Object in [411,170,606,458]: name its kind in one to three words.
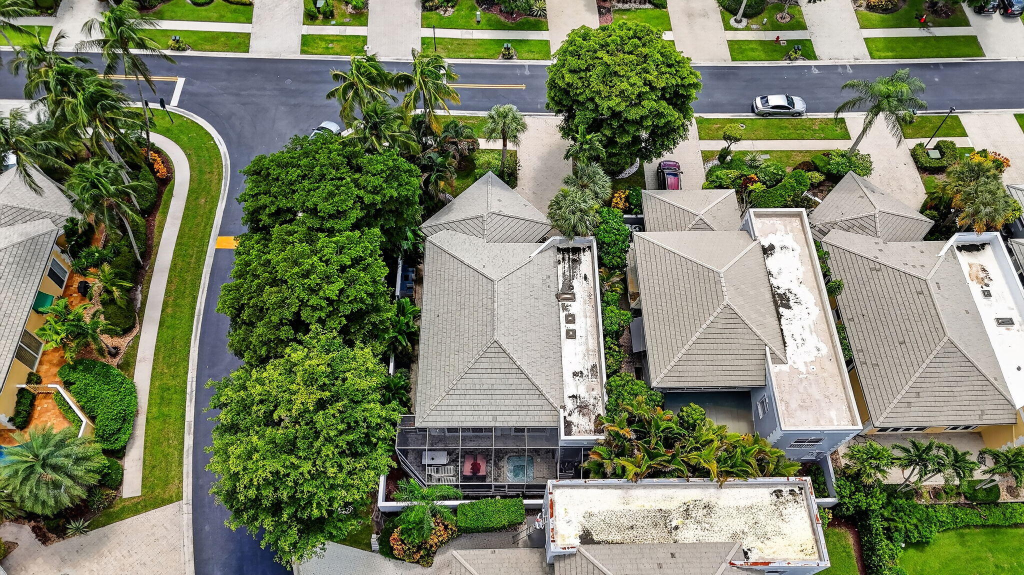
house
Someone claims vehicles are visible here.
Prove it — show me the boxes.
[311,122,340,141]
[973,0,1002,12]
[655,161,683,189]
[748,90,804,115]
[1001,0,1024,14]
